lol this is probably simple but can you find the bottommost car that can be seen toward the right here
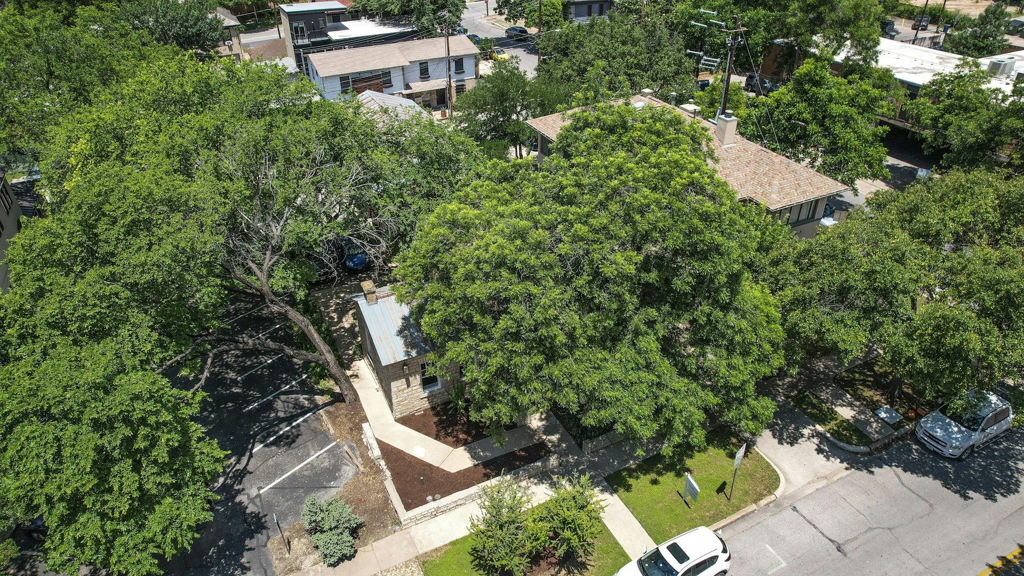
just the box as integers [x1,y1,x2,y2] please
[622,529,738,576]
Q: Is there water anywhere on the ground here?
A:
No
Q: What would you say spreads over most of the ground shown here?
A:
trees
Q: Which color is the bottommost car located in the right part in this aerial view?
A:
white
